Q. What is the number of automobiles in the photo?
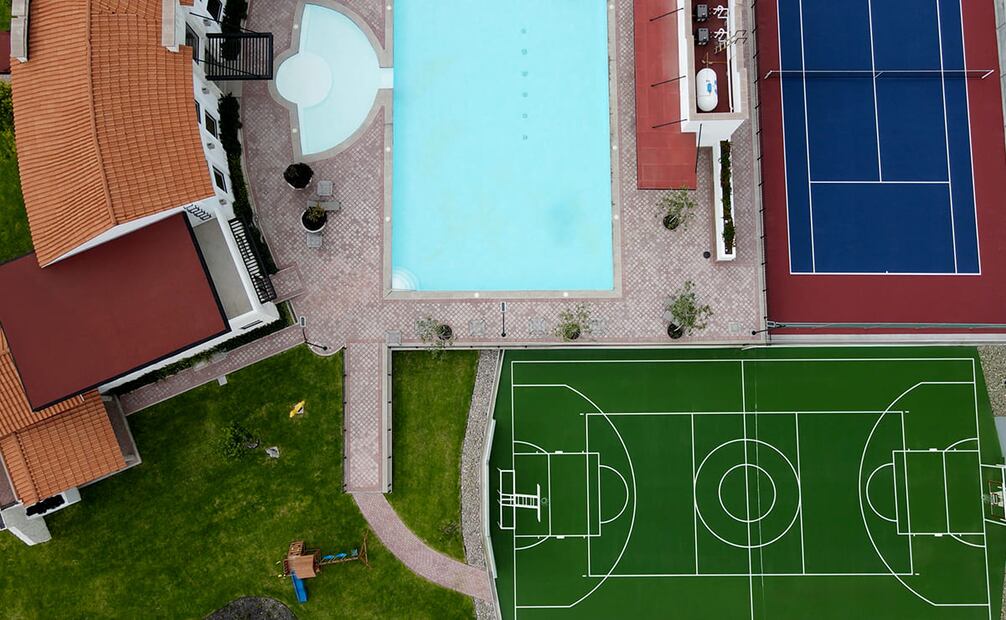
0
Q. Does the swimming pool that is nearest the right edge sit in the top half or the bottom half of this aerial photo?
top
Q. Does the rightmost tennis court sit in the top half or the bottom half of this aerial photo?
top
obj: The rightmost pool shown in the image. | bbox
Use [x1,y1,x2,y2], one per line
[386,0,621,298]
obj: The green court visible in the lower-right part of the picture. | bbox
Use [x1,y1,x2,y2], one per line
[490,348,1006,620]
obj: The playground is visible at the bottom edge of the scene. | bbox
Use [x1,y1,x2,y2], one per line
[286,532,372,604]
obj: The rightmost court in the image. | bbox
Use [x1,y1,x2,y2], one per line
[757,0,1006,333]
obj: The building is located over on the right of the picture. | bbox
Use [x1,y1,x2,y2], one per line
[633,0,749,190]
